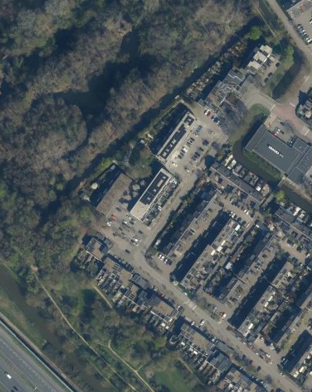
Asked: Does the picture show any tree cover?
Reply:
Yes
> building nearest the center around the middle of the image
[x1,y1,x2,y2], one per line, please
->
[130,169,176,224]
